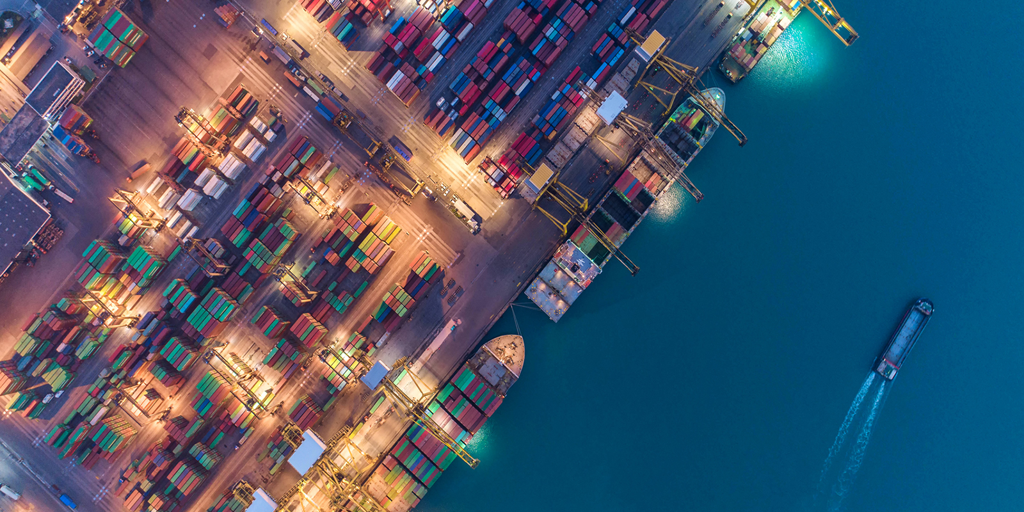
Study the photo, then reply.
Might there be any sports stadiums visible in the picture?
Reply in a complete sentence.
No, the scene contains no sports stadium.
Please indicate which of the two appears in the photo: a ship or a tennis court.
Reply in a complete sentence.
I can see a ship in this picture.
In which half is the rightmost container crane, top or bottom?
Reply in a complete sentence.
The top half of the photo is where the rightmost container crane is.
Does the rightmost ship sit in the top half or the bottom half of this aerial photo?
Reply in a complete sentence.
You can find the rightmost ship in the bottom half.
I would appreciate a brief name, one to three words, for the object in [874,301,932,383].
ship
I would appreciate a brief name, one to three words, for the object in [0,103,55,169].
building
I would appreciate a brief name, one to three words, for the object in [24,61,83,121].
building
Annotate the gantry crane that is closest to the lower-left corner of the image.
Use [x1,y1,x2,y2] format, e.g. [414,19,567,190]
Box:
[109,377,173,427]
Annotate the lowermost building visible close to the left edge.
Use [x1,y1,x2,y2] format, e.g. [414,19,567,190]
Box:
[0,165,56,278]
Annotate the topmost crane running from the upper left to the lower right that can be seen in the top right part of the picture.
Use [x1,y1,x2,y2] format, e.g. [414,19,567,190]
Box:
[797,0,860,51]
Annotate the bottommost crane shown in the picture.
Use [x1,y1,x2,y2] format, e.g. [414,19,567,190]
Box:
[234,471,339,512]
